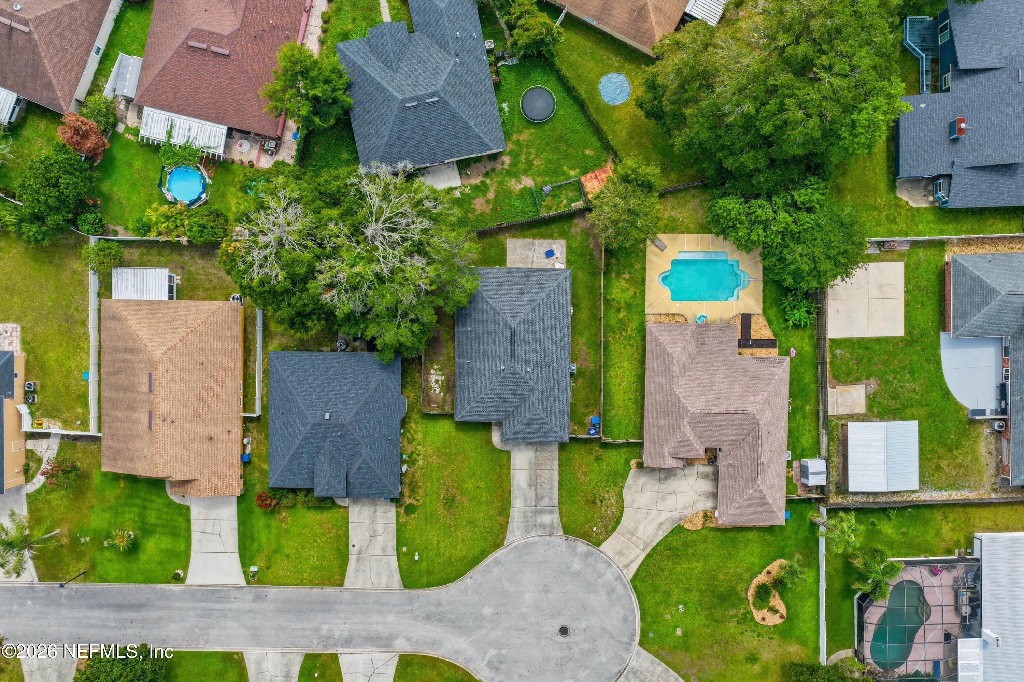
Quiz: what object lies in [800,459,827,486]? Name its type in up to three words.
shed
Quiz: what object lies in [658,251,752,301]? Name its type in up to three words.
swimming pool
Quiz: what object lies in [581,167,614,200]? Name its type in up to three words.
shed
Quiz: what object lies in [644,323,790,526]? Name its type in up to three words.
house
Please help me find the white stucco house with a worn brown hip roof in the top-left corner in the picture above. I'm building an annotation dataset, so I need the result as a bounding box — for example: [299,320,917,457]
[0,0,126,115]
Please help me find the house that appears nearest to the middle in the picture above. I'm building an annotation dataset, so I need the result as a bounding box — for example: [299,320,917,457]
[454,268,571,444]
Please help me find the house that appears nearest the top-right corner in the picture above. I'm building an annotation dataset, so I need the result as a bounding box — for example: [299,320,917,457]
[891,0,1024,208]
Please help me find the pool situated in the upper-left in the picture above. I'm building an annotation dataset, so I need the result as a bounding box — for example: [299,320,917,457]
[159,157,211,207]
